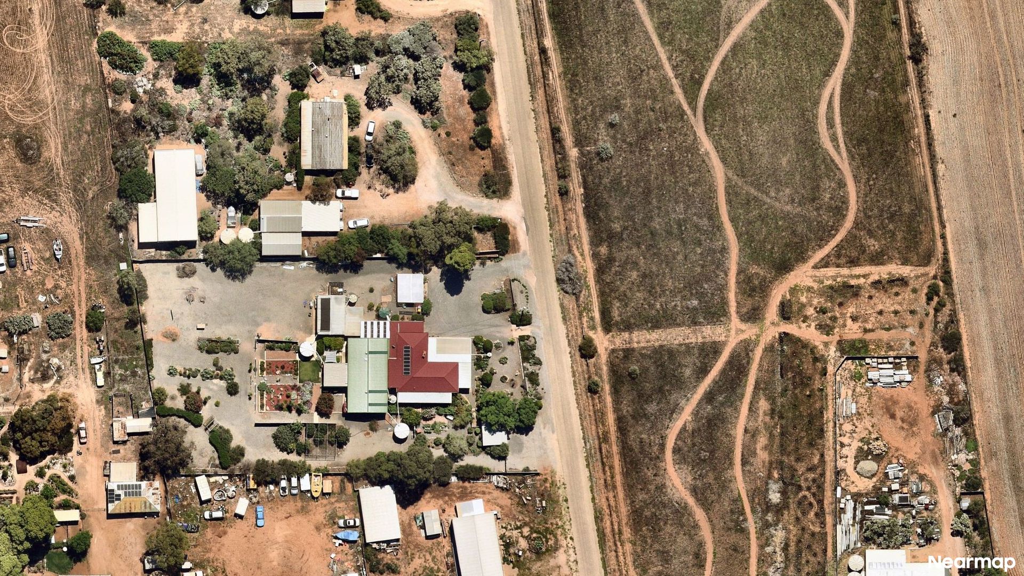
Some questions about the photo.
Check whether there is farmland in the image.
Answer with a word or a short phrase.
Yes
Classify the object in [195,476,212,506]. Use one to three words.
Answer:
camper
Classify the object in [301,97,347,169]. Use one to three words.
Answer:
house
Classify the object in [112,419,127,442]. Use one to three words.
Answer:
shed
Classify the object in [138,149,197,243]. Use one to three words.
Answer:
shed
